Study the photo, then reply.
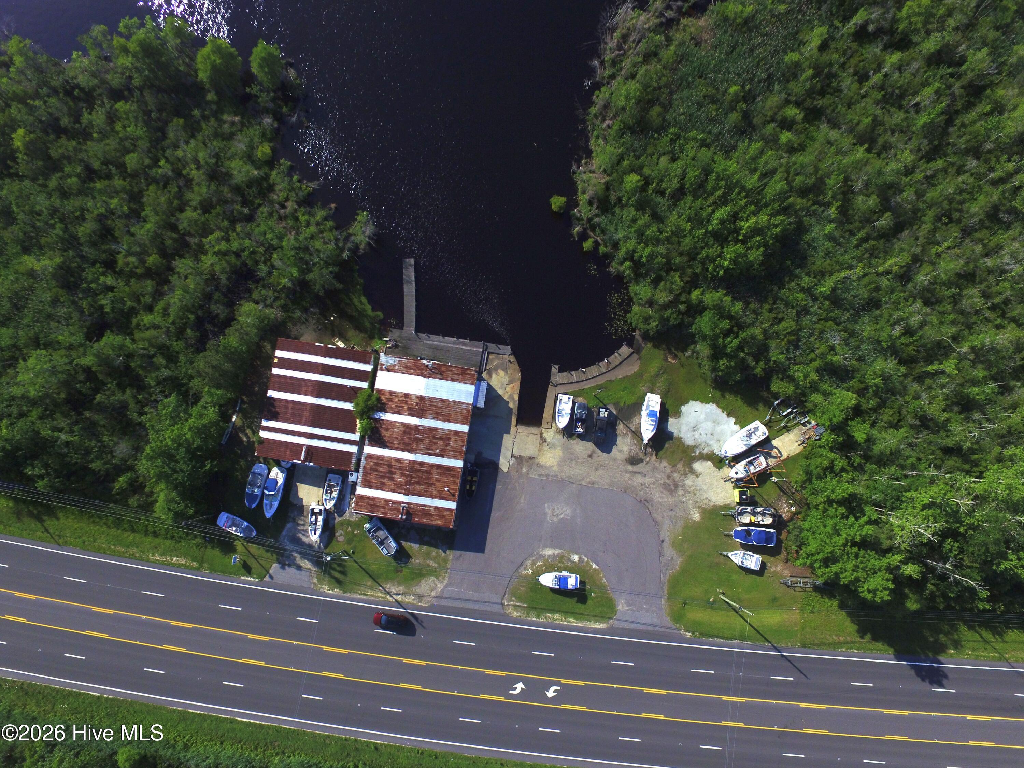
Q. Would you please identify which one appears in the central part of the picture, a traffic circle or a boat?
boat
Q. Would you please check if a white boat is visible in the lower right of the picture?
Yes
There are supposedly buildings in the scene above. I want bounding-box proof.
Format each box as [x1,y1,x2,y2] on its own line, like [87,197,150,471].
[256,338,374,471]
[352,355,477,529]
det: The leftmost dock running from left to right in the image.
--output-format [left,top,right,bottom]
[385,329,513,377]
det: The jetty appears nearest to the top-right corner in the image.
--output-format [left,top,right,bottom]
[549,342,633,386]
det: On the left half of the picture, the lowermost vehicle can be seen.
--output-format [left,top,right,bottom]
[374,612,406,628]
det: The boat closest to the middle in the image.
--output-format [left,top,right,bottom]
[555,394,573,429]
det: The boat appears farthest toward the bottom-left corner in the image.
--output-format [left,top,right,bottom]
[216,512,256,537]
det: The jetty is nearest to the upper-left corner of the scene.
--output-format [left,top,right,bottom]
[403,259,417,328]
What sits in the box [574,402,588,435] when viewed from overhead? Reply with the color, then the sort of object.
black vehicle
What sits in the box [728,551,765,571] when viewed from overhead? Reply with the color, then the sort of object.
white boat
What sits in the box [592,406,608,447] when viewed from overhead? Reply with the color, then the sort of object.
black vehicle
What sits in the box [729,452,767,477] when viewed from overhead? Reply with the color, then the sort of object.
white boat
